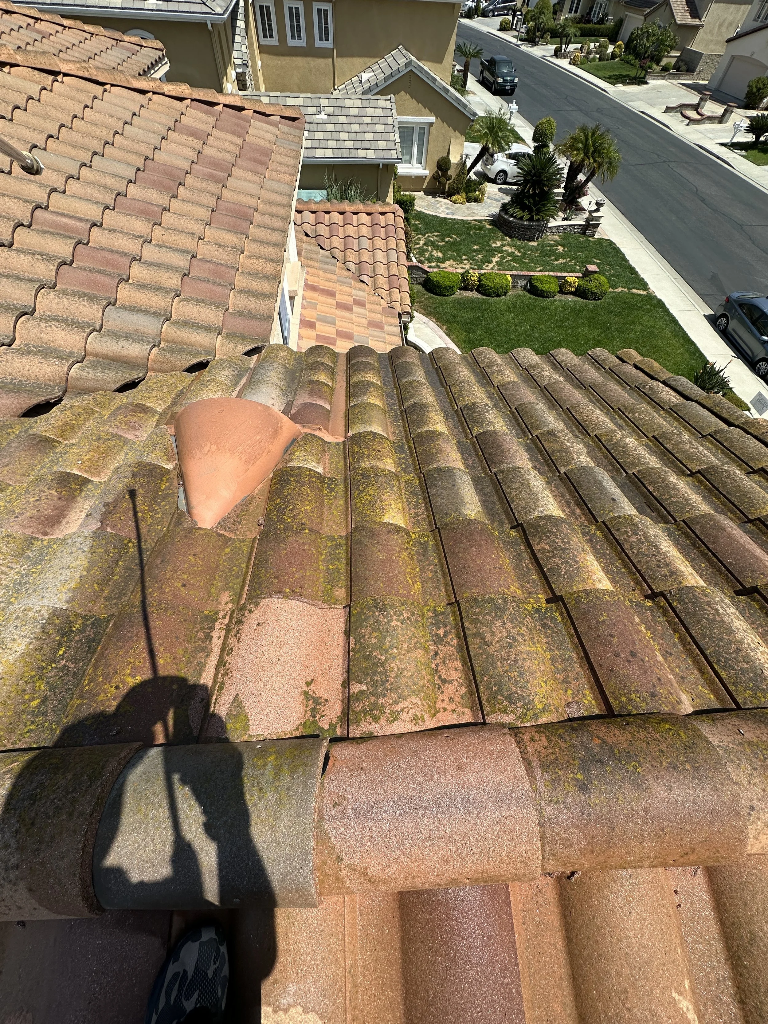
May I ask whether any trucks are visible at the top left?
No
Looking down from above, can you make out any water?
No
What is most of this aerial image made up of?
buildings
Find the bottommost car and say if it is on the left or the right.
right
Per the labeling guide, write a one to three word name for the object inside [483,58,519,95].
truck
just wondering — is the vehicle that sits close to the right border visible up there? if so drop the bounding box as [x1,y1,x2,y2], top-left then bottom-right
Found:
[713,294,768,383]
